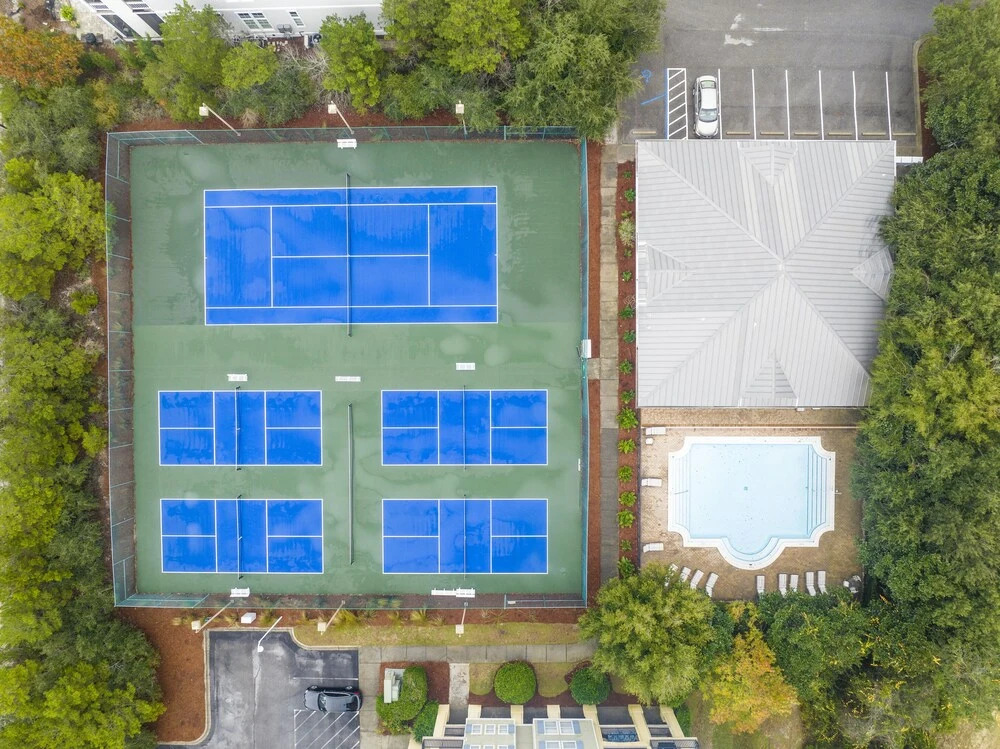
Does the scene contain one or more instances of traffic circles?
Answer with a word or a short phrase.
No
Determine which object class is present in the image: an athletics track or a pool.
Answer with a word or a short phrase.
pool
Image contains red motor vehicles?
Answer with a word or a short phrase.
No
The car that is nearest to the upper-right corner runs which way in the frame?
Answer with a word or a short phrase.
from top to bottom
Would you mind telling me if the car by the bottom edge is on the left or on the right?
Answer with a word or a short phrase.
left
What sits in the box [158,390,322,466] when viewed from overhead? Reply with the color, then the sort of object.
blue sports court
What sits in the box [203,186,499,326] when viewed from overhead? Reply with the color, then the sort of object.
blue tennis court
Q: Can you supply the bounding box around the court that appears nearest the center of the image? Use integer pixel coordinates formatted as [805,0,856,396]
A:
[382,389,548,466]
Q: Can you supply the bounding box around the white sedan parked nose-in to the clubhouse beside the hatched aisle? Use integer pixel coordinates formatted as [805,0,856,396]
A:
[693,74,723,138]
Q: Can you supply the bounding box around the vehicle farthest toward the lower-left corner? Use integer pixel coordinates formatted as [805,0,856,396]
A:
[305,683,363,715]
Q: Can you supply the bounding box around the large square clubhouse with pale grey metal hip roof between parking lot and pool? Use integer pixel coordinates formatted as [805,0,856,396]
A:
[635,140,899,414]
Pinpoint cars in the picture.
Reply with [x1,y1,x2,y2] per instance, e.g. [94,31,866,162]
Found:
[305,683,363,715]
[693,74,723,138]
